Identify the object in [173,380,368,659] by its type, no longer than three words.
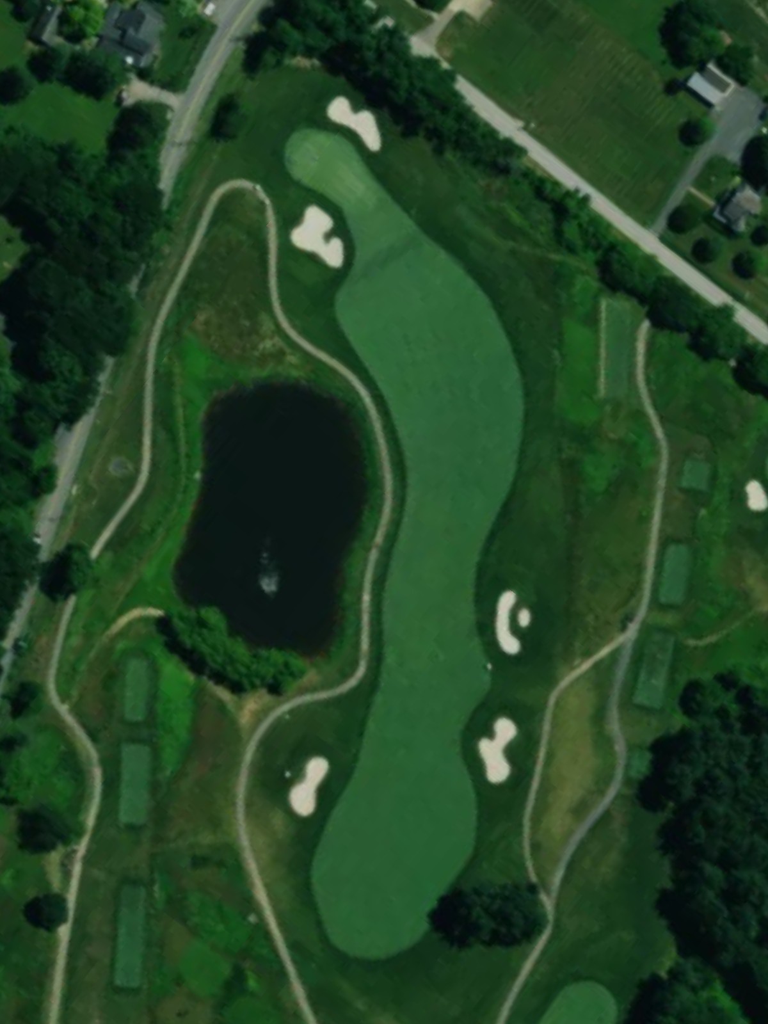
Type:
pond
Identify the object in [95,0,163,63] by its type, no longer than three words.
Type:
house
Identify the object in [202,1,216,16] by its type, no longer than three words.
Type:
vehicle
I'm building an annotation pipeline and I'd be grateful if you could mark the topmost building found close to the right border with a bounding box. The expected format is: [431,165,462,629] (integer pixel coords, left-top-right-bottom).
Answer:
[689,60,735,105]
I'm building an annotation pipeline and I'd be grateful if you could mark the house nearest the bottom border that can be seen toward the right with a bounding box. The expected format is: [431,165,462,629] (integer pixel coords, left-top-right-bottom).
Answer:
[709,181,768,231]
